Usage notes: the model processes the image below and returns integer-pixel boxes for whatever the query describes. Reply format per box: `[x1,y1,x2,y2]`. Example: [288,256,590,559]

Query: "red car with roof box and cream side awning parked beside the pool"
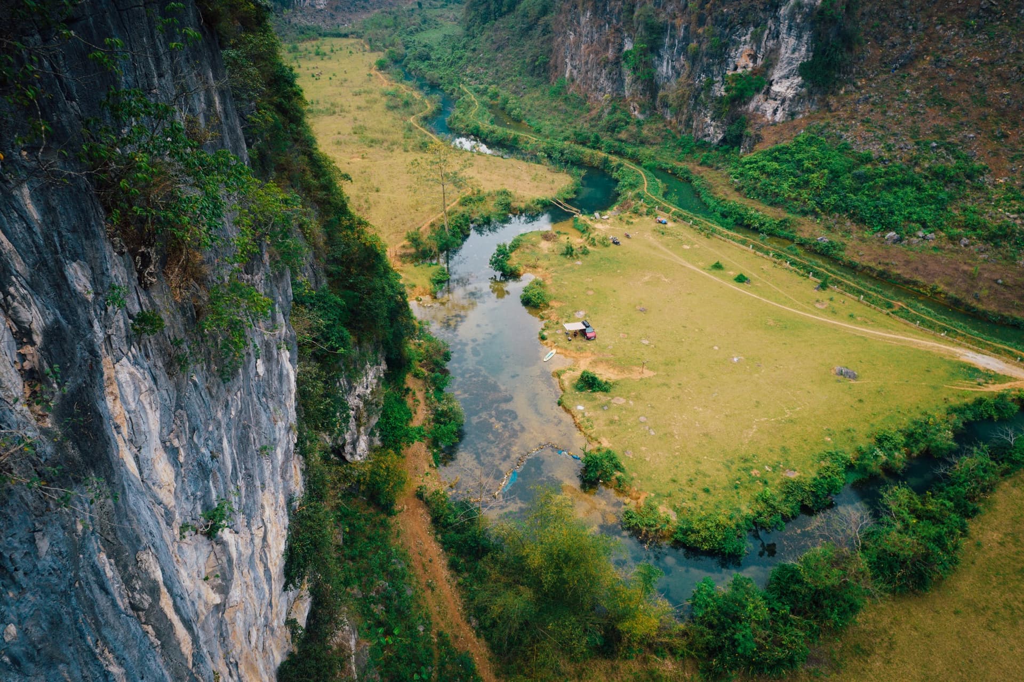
[566,319,597,341]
